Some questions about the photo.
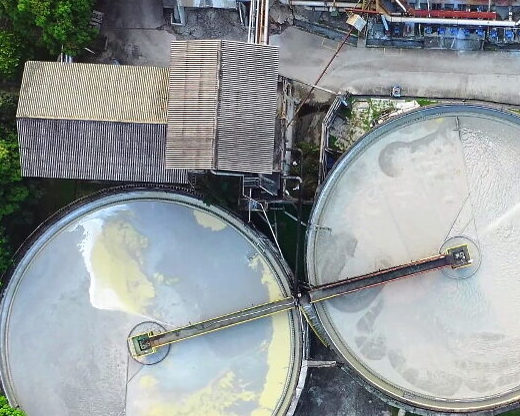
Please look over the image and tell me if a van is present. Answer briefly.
No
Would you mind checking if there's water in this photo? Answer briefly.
Yes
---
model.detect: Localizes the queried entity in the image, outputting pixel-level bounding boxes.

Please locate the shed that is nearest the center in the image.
[166,38,280,174]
